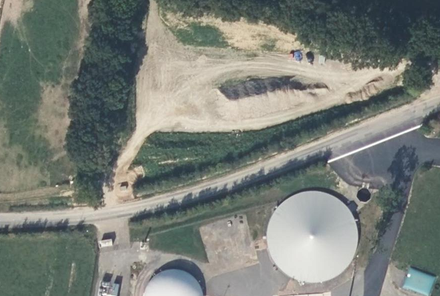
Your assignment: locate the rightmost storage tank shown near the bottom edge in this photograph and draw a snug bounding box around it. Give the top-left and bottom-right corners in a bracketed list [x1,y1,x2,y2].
[264,190,359,284]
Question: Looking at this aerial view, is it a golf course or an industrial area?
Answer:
industrial area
